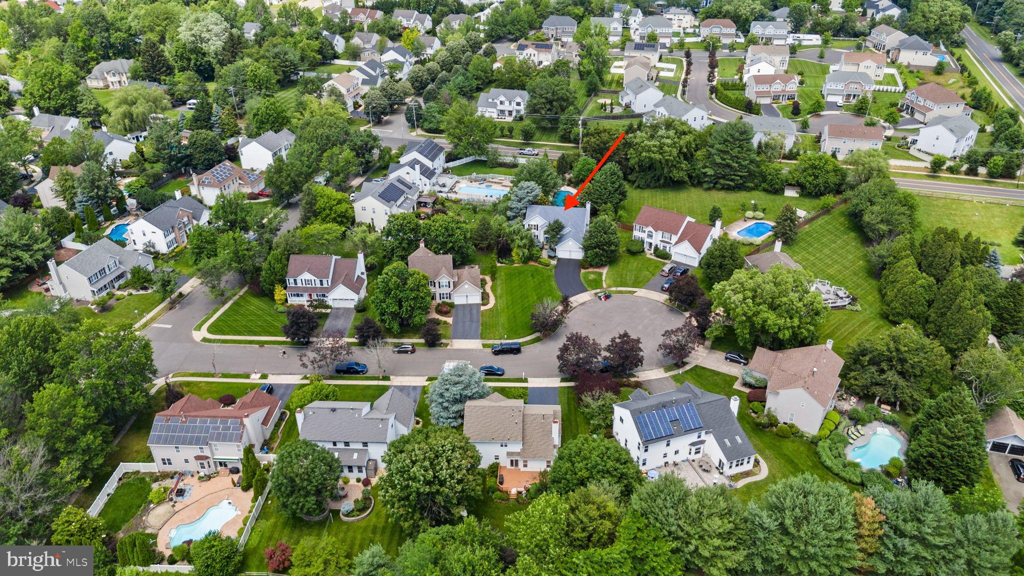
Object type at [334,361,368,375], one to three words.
vehicle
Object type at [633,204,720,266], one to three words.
house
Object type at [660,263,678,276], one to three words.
vehicle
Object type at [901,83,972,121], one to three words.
house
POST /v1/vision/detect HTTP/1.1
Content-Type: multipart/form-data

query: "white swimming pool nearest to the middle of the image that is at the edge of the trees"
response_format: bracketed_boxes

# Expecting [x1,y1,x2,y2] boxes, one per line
[455,183,510,198]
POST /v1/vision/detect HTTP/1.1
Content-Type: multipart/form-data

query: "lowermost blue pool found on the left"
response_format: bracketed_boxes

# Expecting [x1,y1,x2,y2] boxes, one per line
[108,223,130,240]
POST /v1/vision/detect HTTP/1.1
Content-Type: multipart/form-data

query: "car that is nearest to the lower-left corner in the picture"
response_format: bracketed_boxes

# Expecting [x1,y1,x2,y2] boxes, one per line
[258,380,273,396]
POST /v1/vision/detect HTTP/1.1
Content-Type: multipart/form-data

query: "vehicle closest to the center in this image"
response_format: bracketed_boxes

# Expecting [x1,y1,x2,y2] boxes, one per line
[492,340,521,354]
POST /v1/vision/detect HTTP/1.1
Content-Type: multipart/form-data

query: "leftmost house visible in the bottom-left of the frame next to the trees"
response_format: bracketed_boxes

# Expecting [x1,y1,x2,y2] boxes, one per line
[146,390,288,476]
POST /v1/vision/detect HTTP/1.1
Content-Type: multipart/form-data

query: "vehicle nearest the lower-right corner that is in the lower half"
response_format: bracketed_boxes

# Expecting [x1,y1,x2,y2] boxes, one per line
[1002,459,1024,482]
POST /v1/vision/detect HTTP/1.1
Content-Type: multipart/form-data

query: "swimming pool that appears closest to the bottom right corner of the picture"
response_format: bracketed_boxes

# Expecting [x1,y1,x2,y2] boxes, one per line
[850,429,902,469]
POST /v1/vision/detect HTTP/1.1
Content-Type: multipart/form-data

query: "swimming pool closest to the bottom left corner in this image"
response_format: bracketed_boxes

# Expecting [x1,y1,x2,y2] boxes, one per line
[168,498,240,551]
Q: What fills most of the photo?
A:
trees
